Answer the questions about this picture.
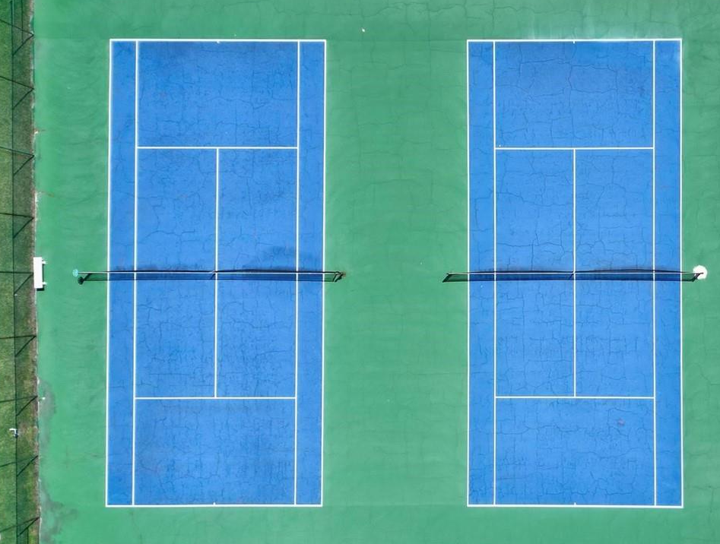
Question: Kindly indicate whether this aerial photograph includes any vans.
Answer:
No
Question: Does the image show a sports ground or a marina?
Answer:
sports ground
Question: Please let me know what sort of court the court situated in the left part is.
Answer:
tennis court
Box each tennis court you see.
[467,38,683,508]
[106,39,326,507]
